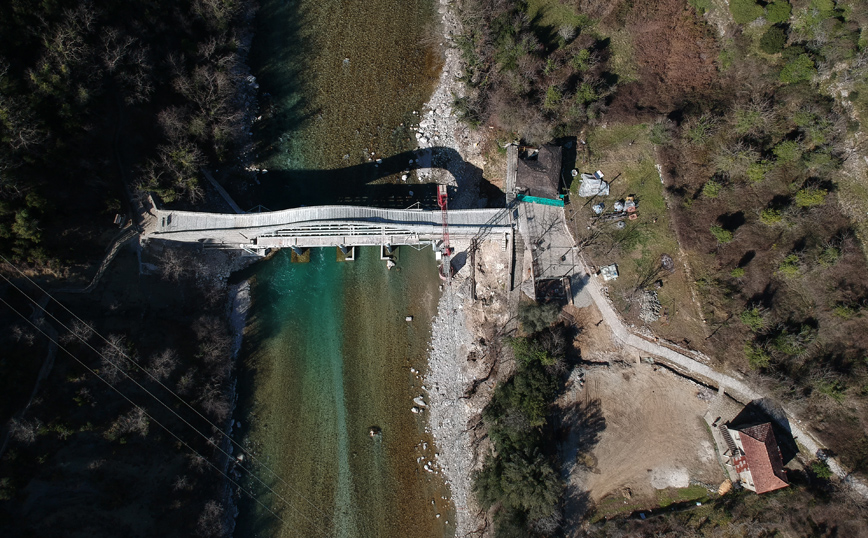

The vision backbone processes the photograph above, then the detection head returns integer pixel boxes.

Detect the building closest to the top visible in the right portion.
[516,146,561,202]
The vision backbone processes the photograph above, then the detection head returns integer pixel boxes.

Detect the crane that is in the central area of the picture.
[437,186,459,391]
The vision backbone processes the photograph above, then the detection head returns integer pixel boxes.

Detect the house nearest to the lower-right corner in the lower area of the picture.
[717,421,790,494]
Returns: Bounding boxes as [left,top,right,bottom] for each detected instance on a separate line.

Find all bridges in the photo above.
[142,205,514,244]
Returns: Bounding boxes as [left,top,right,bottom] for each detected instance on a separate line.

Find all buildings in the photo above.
[717,421,790,494]
[516,146,561,202]
[600,262,622,281]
